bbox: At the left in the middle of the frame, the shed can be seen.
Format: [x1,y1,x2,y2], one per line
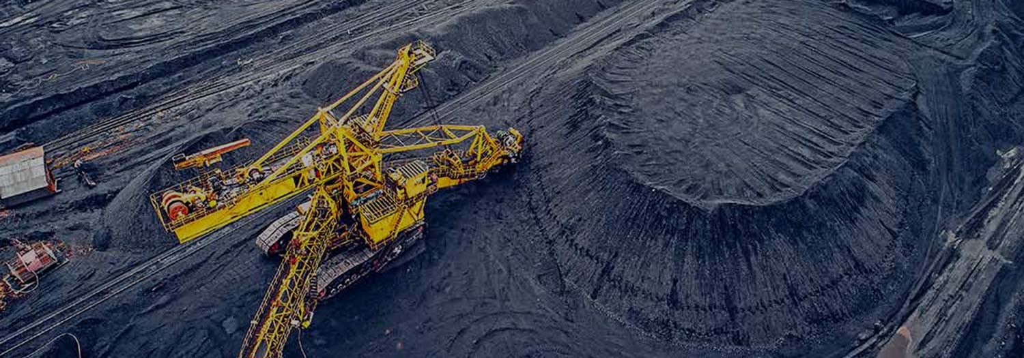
[0,147,64,210]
